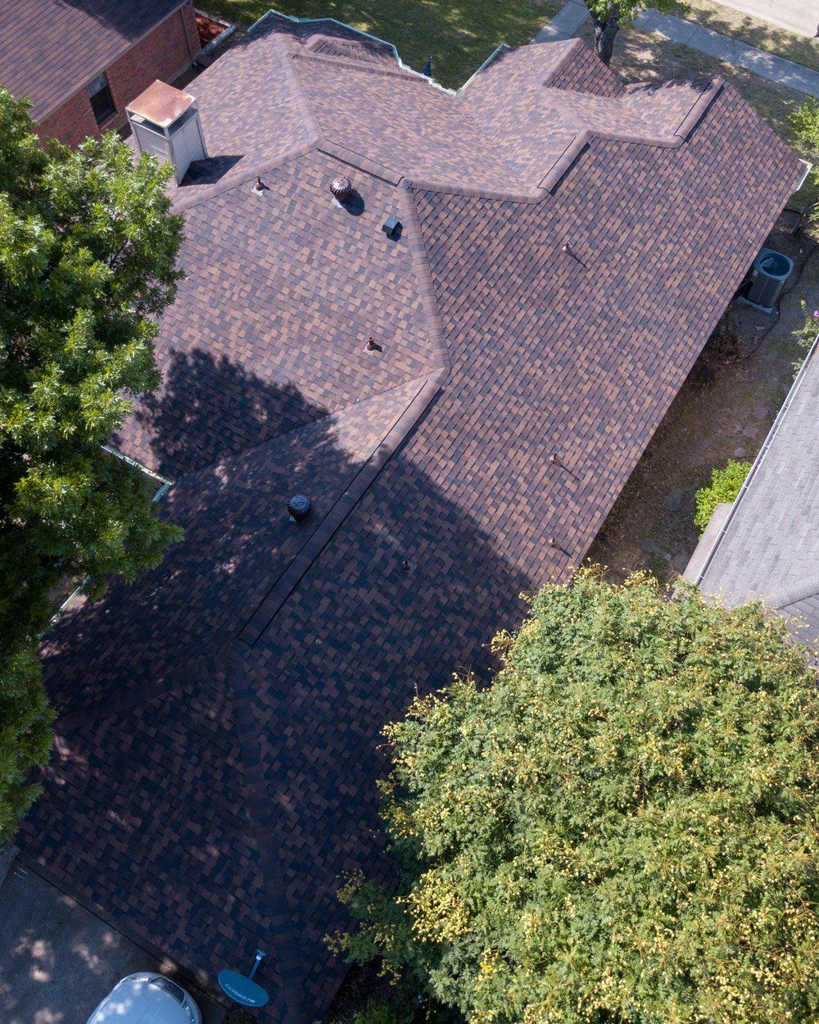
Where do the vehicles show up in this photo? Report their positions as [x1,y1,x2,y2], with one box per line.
[83,970,202,1024]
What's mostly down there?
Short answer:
buildings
